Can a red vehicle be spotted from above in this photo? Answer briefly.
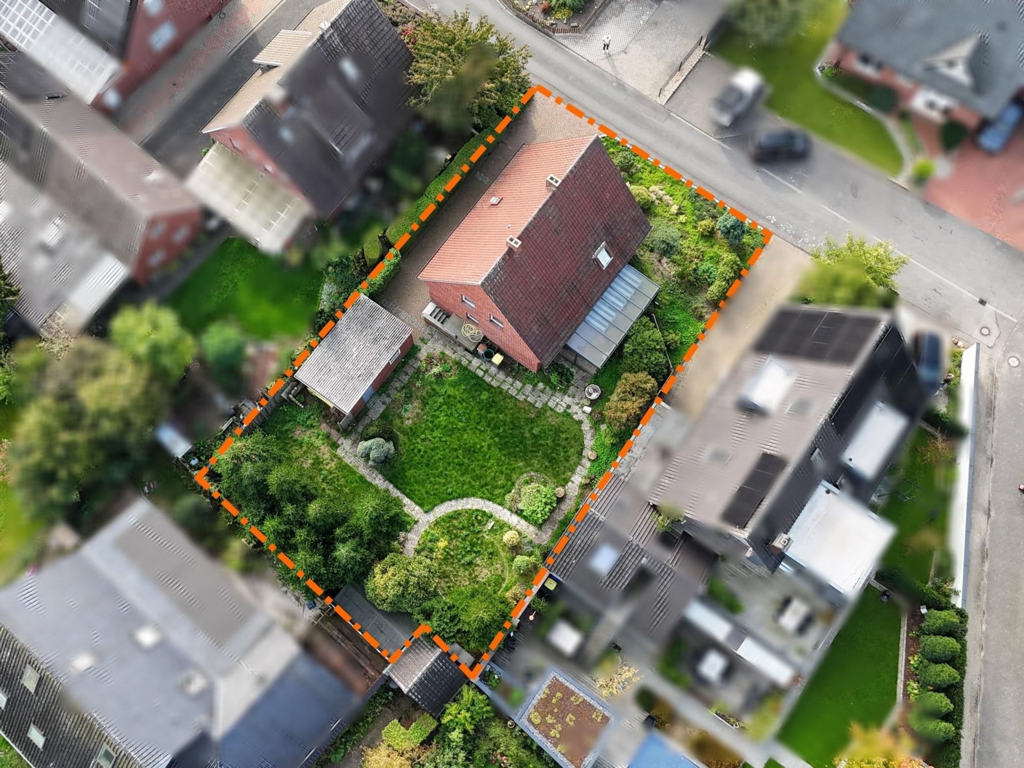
No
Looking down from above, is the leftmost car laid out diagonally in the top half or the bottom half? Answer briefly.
top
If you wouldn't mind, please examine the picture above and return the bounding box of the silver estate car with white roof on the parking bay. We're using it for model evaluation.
[714,66,768,126]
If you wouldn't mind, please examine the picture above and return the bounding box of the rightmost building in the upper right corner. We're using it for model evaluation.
[822,0,1024,132]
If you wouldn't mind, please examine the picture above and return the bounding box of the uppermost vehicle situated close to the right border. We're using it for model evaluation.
[976,98,1024,151]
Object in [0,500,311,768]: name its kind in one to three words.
house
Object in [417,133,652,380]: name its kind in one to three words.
house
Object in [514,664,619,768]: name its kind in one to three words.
building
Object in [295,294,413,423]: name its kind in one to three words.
shed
